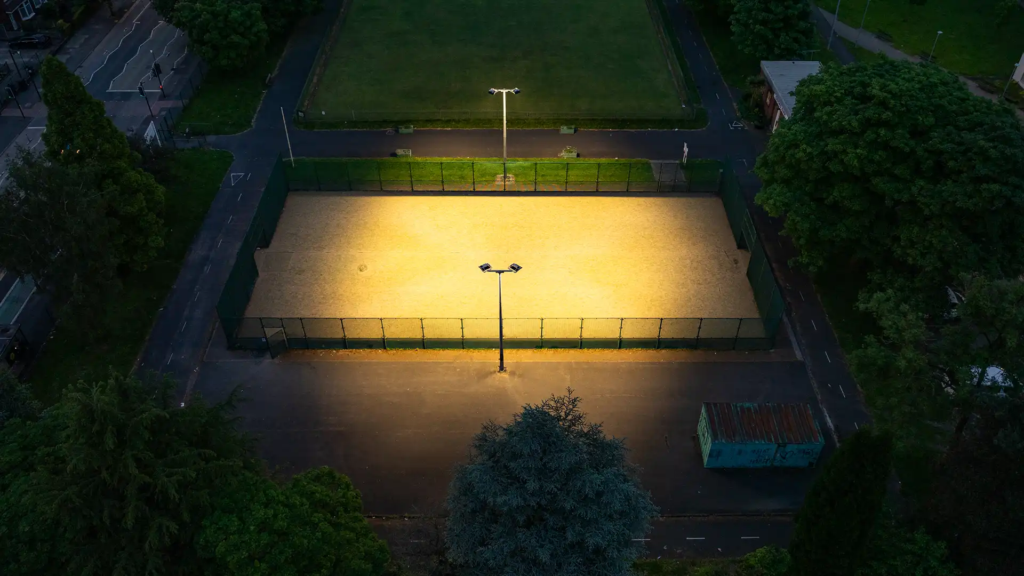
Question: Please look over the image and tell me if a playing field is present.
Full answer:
Yes, this view includes a playing field.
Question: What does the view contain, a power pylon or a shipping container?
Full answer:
It is a shipping container that can be seen here.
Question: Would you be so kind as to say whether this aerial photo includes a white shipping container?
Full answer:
No, no white shipping container is visible in the view.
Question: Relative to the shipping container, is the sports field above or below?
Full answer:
The sports field is found above the shipping container in the photo.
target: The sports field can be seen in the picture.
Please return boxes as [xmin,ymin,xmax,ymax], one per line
[235,194,768,349]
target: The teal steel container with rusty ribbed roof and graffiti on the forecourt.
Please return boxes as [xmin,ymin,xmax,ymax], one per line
[697,403,825,468]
